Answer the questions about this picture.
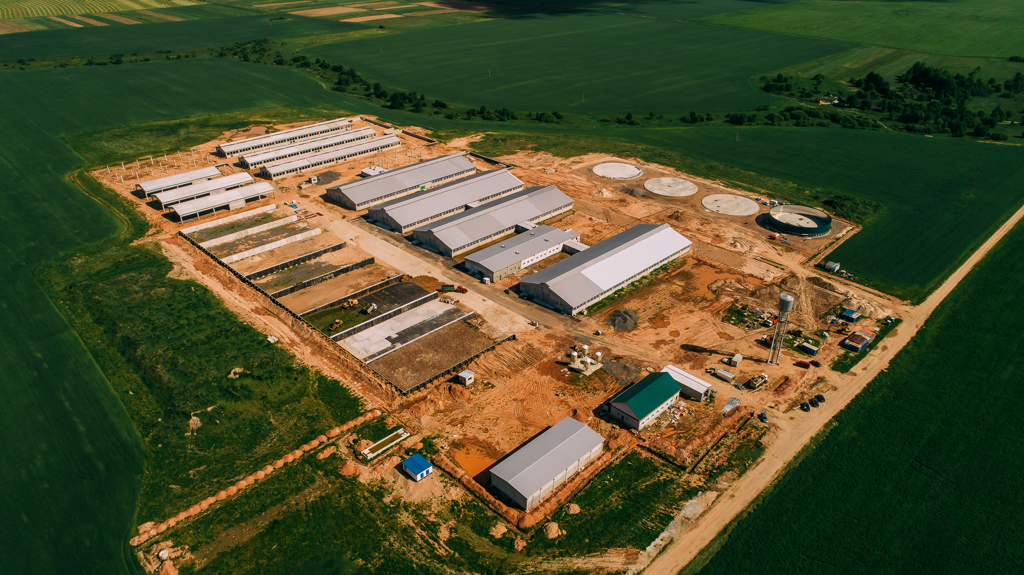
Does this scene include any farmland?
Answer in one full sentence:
Yes, farmland shows up in the scene.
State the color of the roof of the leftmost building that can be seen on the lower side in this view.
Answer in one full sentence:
The color of the roof on the leftmost building that can be seen on the lower side is blue.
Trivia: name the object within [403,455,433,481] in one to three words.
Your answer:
building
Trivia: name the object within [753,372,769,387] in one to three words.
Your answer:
vehicle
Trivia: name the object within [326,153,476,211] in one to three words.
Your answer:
barn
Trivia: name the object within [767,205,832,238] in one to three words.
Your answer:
storage tank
